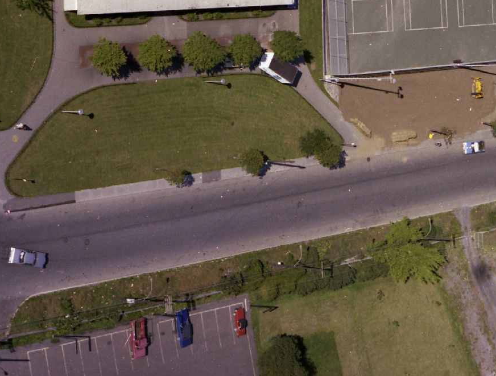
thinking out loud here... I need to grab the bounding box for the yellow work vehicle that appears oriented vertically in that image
[471,74,484,98]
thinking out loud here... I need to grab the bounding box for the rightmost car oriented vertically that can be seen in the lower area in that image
[233,307,247,337]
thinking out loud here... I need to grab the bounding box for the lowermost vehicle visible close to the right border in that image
[463,141,485,154]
